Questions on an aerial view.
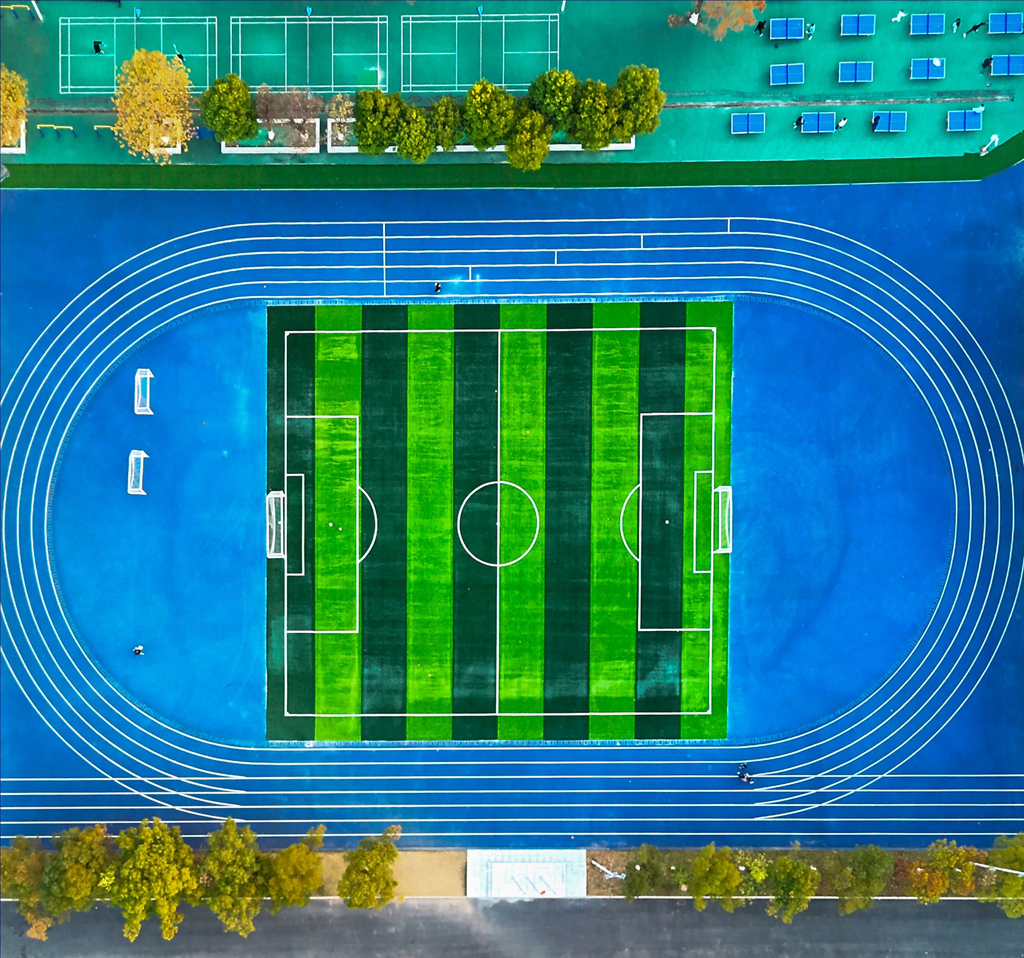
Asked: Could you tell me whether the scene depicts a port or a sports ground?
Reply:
sports ground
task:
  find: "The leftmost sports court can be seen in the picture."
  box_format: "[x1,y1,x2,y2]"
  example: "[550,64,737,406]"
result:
[59,16,217,93]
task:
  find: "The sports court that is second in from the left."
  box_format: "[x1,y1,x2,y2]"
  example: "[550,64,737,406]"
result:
[230,15,388,92]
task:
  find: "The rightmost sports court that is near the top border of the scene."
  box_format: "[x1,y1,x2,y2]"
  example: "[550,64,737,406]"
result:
[401,13,559,91]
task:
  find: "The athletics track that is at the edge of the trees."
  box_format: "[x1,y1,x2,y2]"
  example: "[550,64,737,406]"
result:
[0,157,1024,848]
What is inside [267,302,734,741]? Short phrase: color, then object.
green soccer field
